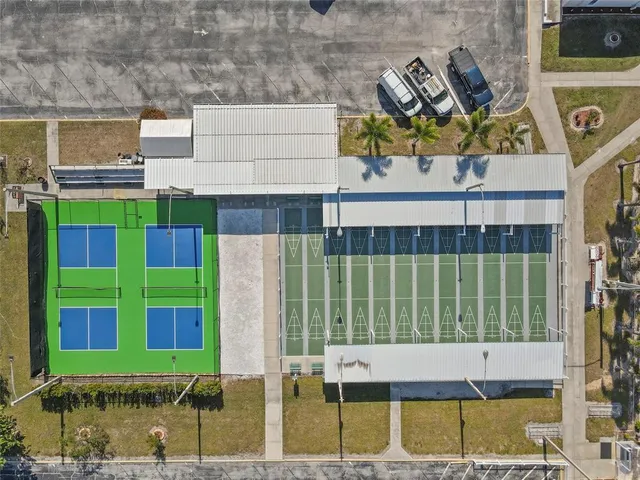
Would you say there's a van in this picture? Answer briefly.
Yes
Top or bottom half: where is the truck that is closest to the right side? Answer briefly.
top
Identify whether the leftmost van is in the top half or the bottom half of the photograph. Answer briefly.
top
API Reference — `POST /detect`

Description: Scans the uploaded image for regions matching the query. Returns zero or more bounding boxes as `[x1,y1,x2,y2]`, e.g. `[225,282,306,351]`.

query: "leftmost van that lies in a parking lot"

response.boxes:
[378,67,419,114]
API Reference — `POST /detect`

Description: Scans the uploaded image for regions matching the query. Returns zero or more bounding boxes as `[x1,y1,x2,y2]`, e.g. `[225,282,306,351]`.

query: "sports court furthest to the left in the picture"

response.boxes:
[58,224,118,350]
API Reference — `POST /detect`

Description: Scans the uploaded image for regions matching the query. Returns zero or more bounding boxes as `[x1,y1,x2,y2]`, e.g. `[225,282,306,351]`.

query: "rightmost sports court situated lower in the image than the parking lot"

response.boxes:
[145,224,204,350]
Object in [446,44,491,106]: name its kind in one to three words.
truck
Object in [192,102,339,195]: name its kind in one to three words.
building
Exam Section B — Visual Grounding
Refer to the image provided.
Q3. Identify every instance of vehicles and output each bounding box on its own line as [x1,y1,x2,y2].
[404,56,452,114]
[378,67,419,114]
[446,44,491,106]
